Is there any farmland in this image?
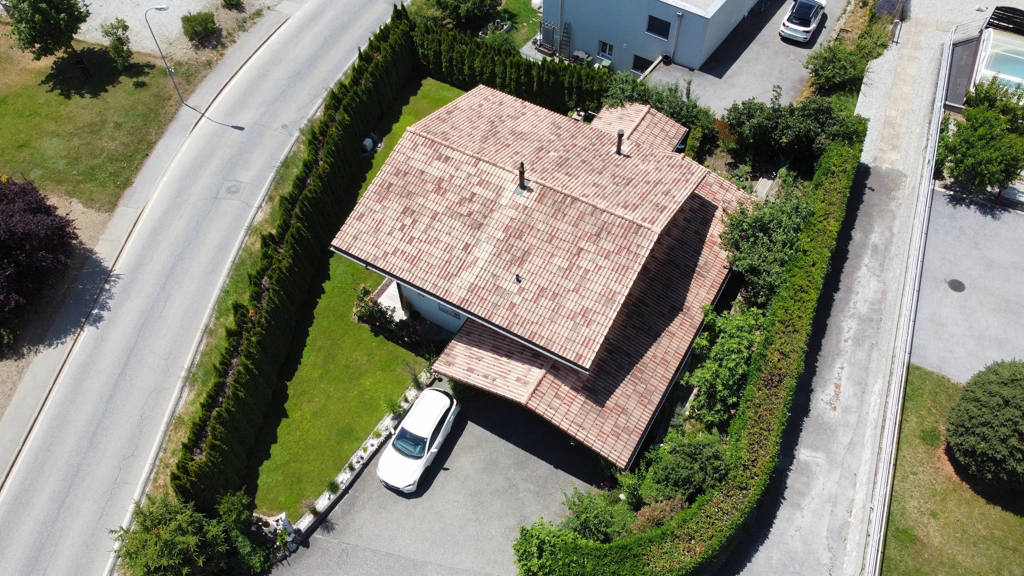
No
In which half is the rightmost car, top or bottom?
top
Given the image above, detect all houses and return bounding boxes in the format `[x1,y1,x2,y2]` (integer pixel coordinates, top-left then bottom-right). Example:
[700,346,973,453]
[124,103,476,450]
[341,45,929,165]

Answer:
[329,84,763,472]
[543,0,754,79]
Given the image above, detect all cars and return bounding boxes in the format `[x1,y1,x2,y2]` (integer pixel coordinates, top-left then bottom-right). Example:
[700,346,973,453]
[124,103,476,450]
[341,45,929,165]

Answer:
[778,0,826,46]
[376,387,463,494]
